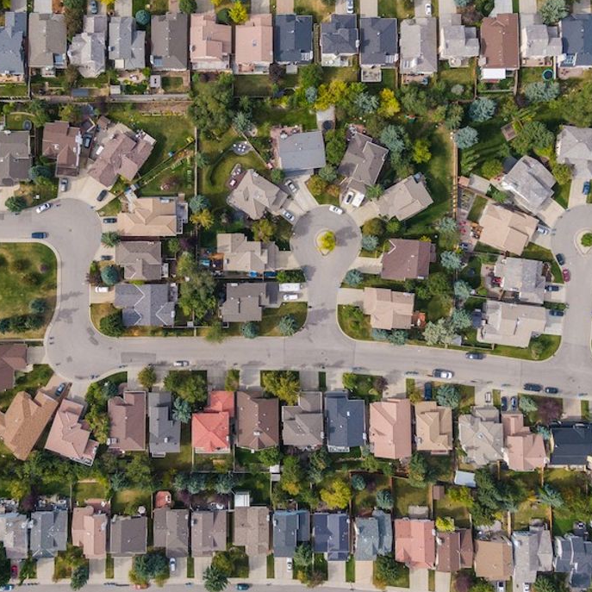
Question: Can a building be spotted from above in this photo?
Yes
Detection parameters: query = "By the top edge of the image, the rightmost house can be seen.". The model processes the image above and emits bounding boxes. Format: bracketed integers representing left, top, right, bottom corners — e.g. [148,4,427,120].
[552,12,592,78]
